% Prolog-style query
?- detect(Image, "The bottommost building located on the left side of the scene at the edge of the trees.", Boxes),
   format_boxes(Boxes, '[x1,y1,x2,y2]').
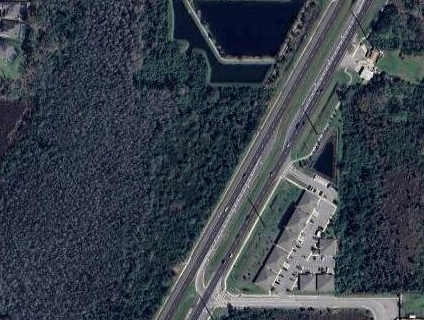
[0,42,22,64]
